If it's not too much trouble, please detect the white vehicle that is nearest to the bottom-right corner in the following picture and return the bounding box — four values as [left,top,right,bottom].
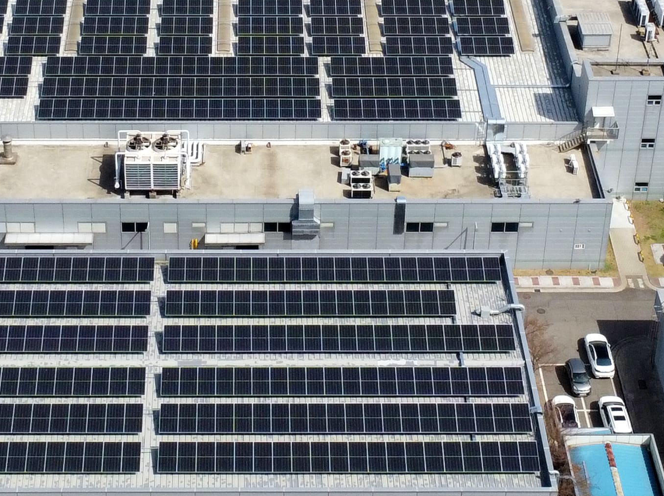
[599,396,639,434]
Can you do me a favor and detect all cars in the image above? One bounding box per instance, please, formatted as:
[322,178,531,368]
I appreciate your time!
[564,355,596,399]
[551,396,585,444]
[584,334,617,380]
[599,396,639,434]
